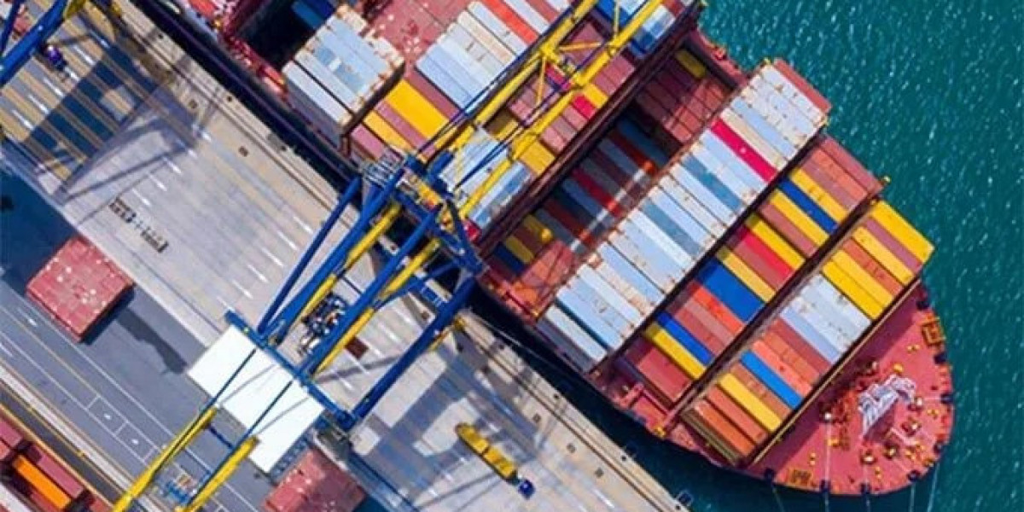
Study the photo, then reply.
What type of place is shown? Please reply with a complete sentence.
What you see here is a port.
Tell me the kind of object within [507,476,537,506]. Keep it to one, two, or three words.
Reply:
truck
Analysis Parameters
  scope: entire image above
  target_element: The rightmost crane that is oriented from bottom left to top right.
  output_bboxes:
[97,0,673,512]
